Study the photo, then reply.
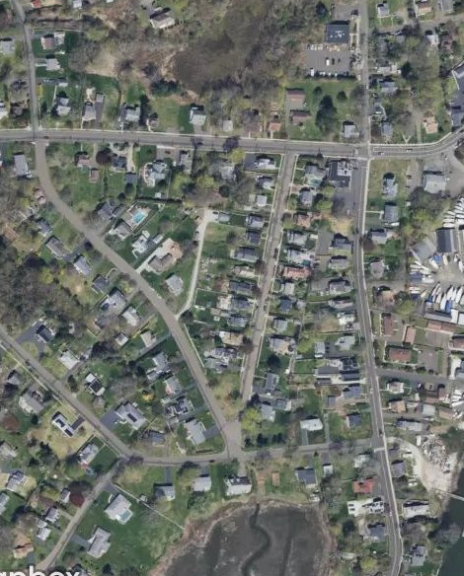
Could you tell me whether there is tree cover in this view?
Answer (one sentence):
Yes, there's tree cover in this view.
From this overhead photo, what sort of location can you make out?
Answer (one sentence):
What you see here is a residential area.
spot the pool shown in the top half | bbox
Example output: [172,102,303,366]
[130,209,147,226]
